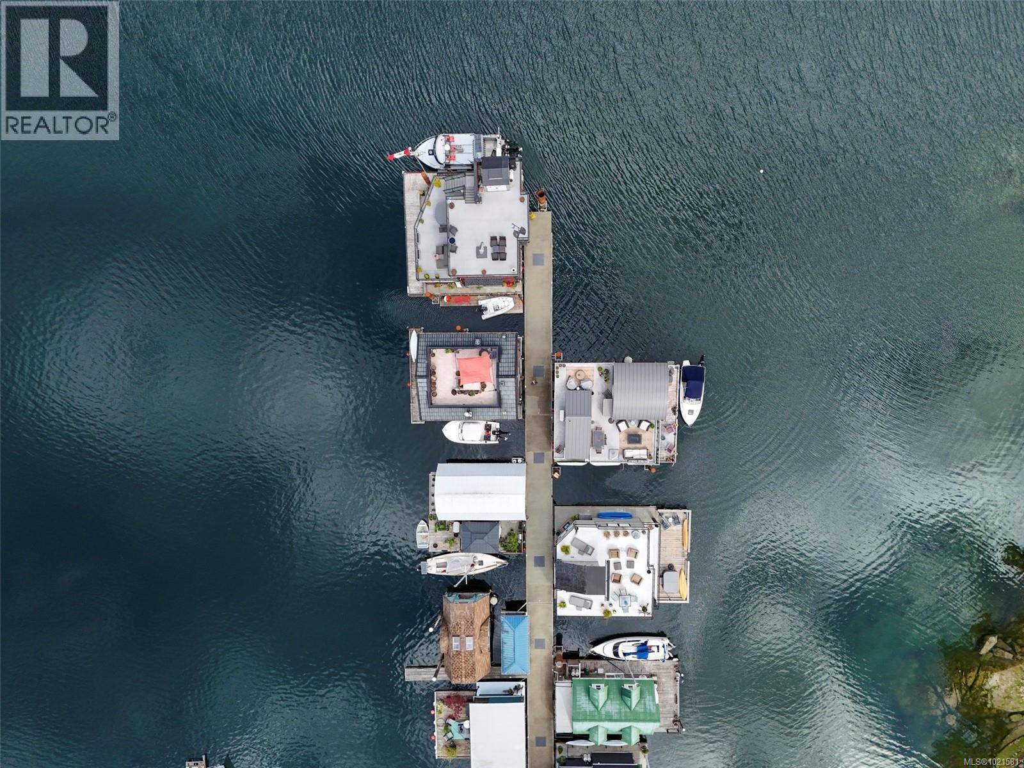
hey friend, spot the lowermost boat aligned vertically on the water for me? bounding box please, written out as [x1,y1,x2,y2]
[416,520,428,550]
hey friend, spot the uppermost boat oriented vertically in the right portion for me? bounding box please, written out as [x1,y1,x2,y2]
[679,355,708,429]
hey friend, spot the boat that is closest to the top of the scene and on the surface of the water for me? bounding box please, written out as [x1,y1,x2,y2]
[386,122,518,167]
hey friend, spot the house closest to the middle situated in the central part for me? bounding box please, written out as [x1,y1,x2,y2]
[409,327,523,423]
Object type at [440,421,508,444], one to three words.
boat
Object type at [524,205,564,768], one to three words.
pier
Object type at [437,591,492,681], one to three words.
house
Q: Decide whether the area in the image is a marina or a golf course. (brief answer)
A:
marina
